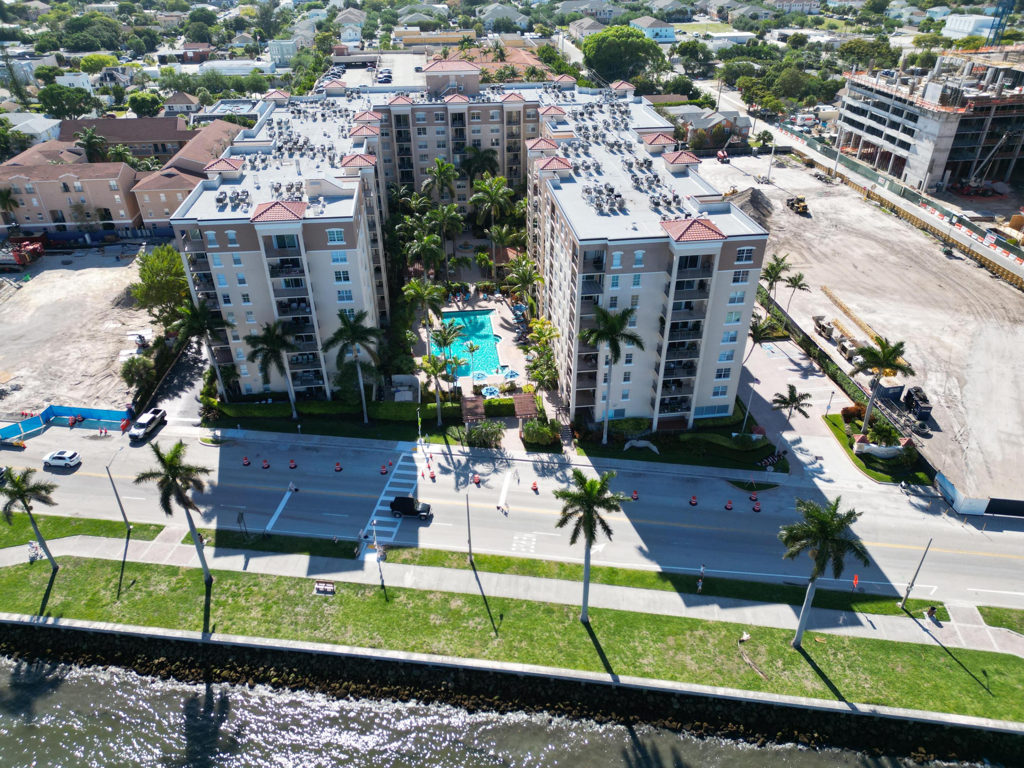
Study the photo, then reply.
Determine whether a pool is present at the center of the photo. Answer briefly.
Yes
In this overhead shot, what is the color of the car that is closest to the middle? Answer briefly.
black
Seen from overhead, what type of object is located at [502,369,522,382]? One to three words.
umbrella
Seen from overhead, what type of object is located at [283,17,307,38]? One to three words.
house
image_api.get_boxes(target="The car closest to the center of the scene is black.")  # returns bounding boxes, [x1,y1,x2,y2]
[388,501,431,524]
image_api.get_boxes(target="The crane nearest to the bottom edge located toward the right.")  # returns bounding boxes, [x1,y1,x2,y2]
[956,128,1024,193]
